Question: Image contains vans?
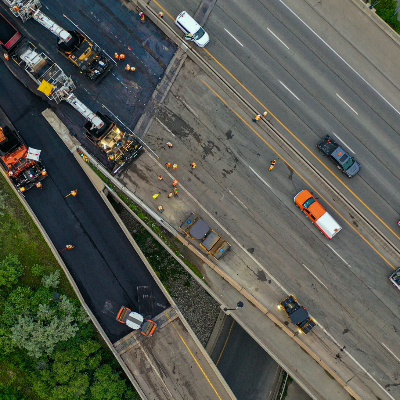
Yes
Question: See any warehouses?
No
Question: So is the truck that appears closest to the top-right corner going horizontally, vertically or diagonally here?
diagonally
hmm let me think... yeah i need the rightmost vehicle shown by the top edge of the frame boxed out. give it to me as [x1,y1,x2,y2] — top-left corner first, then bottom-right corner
[175,10,211,49]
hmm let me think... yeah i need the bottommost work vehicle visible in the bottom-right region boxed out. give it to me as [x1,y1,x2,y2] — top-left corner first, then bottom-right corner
[278,293,318,336]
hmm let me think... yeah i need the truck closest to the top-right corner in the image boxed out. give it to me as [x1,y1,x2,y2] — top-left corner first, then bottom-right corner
[315,134,360,178]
